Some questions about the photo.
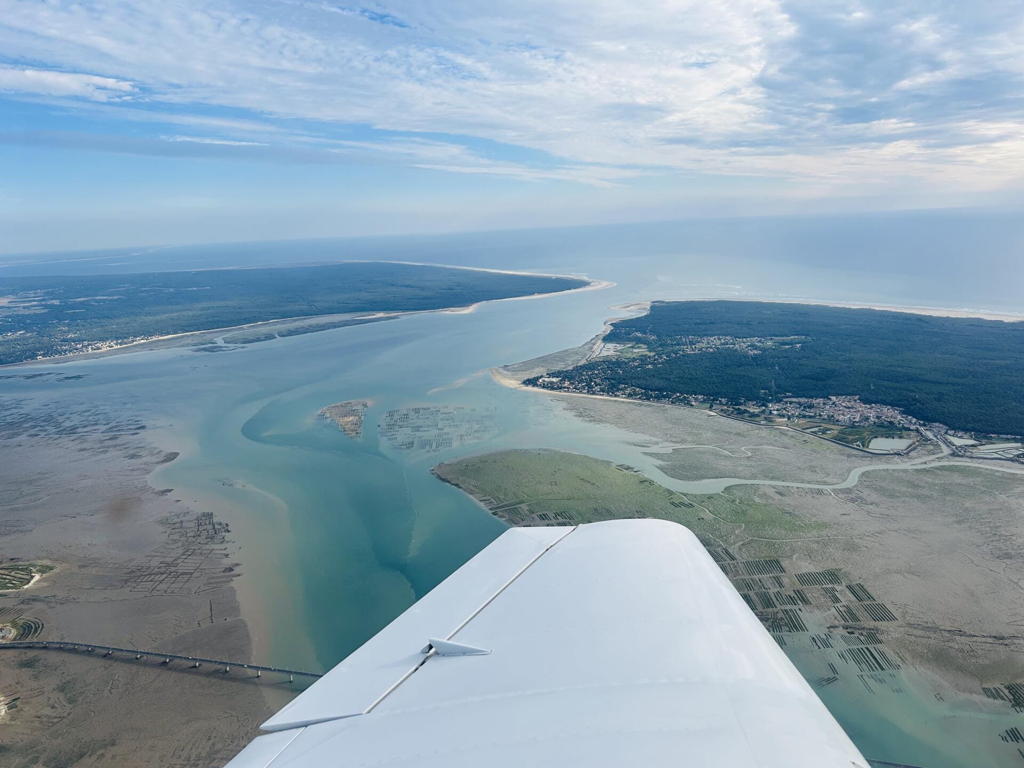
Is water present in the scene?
Yes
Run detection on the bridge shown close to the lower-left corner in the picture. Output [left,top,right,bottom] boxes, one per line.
[0,640,326,682]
